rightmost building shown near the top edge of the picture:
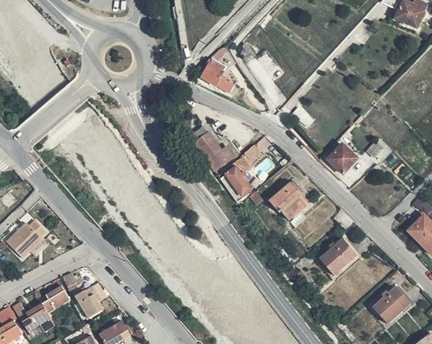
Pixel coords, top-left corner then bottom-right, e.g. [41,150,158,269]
[394,0,426,28]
